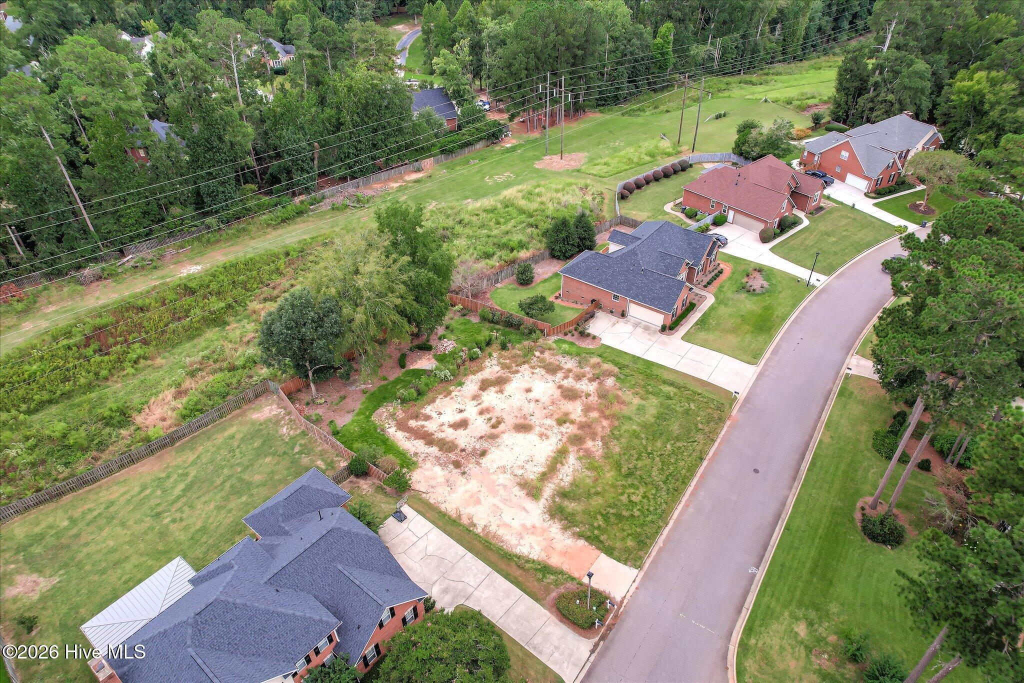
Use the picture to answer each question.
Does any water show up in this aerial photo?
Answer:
No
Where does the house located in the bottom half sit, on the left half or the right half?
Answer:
left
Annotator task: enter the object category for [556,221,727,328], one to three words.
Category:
house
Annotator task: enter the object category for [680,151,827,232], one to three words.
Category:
house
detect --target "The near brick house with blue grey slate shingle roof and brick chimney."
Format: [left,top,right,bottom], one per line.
[80,468,428,683]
